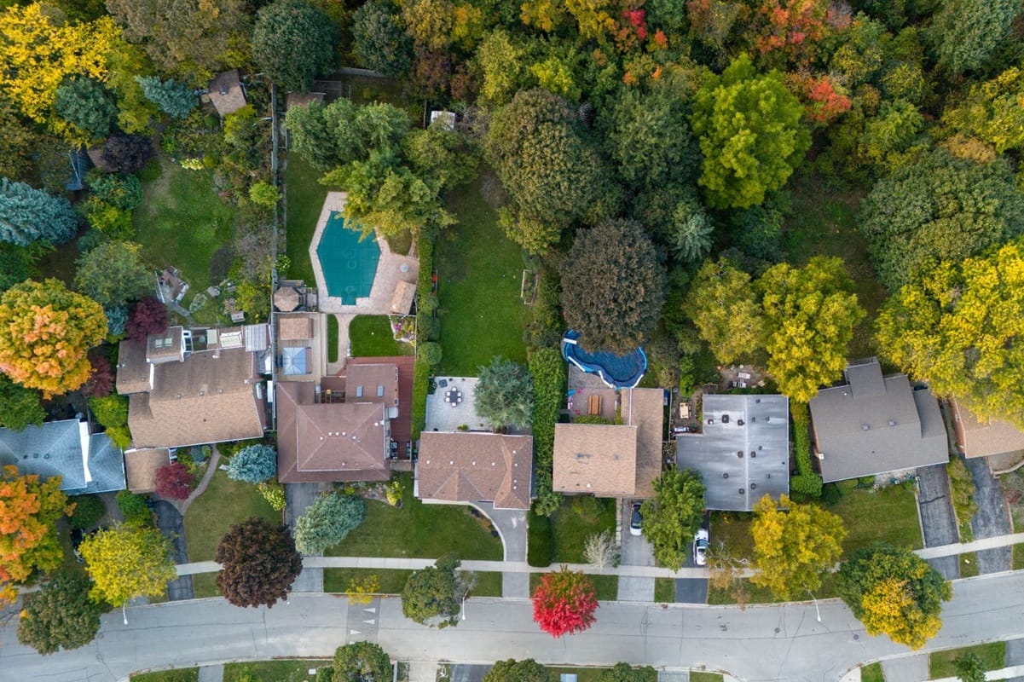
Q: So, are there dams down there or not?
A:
No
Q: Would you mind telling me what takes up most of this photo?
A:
trees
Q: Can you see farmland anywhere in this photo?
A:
No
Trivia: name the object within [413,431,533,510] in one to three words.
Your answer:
house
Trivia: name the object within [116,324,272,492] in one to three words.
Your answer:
house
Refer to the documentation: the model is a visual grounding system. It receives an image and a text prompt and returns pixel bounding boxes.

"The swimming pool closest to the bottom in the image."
[561,328,645,389]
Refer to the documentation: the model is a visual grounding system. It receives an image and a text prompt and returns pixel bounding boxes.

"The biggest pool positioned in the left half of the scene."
[313,208,384,309]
